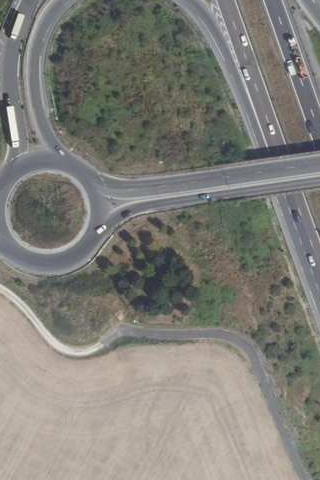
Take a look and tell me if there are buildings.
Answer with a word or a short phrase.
No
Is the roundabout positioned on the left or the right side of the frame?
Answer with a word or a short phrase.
left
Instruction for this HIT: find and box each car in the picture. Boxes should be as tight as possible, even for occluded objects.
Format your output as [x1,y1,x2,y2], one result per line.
[239,32,246,44]
[120,210,132,218]
[4,93,8,104]
[307,254,315,266]
[56,144,65,154]
[306,121,314,132]
[242,66,250,80]
[267,122,274,134]
[292,210,300,221]
[96,224,106,233]
[199,194,210,199]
